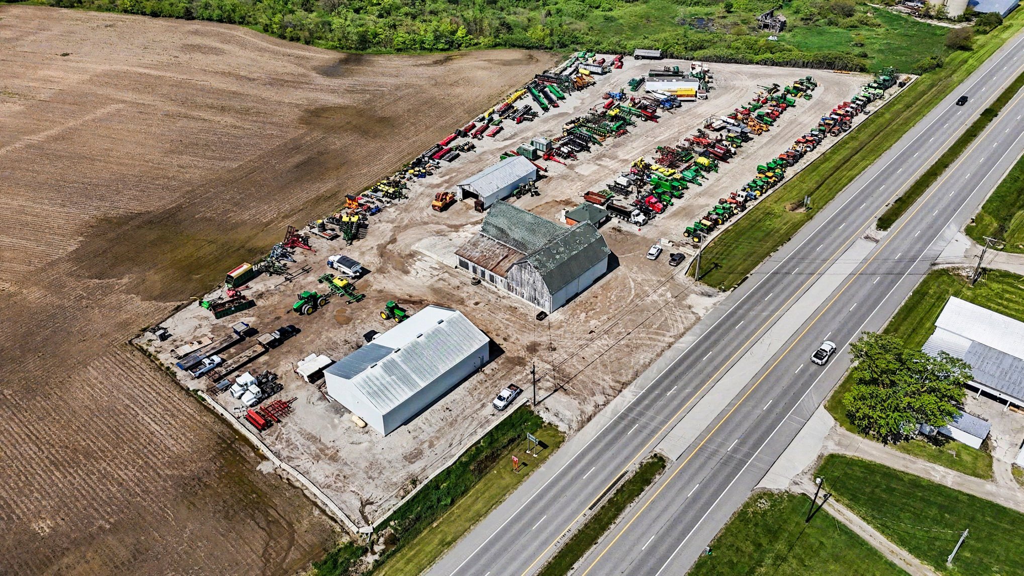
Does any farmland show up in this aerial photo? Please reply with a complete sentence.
Yes, there is farmland in the image.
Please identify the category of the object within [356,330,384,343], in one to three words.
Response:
vehicle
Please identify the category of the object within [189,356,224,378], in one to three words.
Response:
truck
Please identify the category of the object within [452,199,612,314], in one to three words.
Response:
barn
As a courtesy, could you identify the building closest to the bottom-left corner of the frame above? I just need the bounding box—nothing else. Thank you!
[320,306,491,435]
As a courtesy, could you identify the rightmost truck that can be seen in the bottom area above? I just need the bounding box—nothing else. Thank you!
[811,343,836,365]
